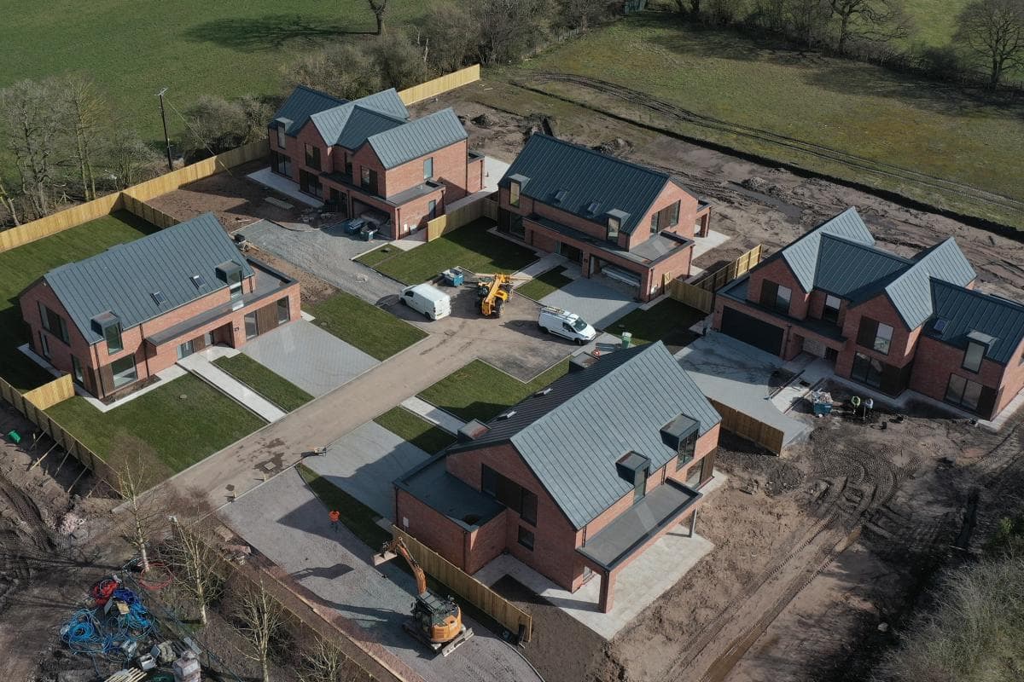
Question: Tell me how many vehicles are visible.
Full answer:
The photo contains 4 vehicles.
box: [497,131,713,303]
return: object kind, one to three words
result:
house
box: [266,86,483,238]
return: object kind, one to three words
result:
house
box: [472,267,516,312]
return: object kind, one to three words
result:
work vehicle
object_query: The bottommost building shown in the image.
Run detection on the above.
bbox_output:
[394,340,723,612]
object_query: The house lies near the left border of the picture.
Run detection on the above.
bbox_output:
[13,209,304,401]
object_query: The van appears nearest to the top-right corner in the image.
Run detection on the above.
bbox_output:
[535,297,598,342]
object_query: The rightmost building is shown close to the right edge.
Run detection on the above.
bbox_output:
[714,205,1024,421]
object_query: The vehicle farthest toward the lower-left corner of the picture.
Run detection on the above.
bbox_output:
[378,533,474,655]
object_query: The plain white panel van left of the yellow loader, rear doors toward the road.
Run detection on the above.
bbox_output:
[399,280,453,320]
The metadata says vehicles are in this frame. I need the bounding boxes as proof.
[399,280,453,320]
[472,267,516,312]
[535,297,598,342]
[378,533,474,655]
